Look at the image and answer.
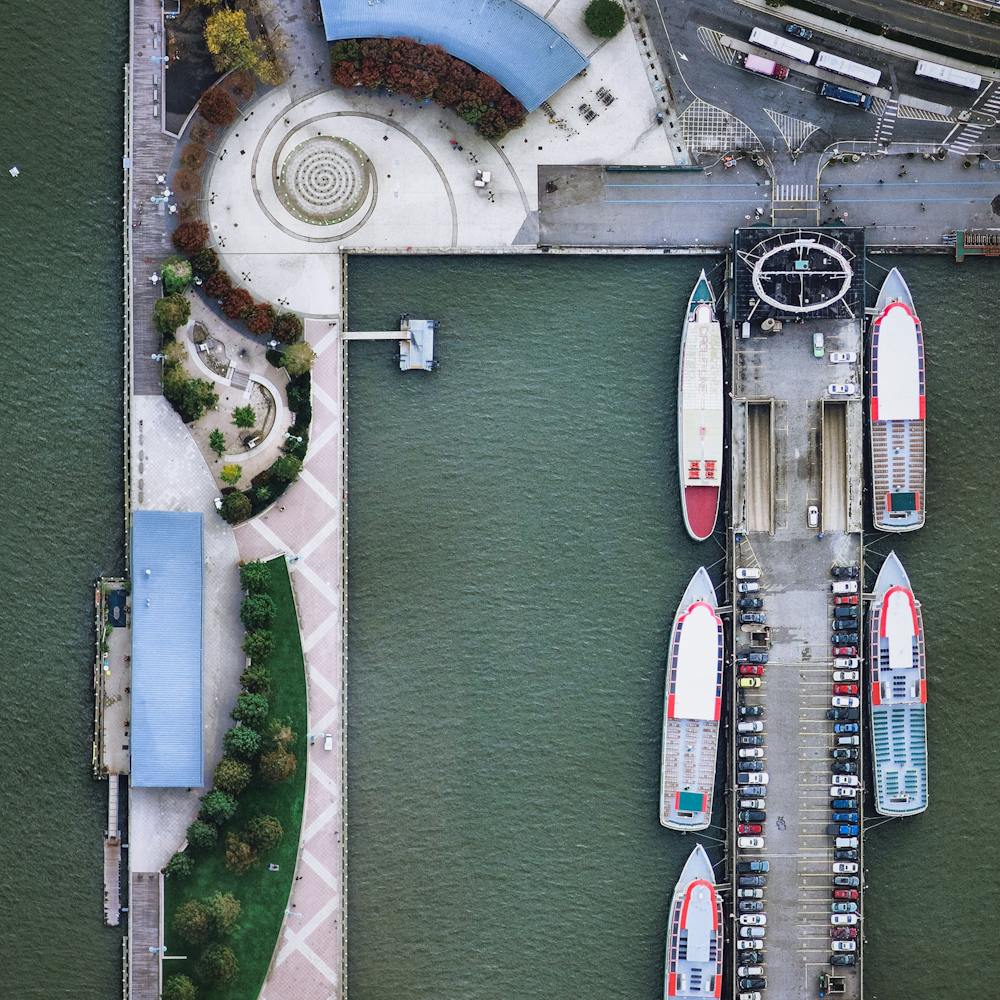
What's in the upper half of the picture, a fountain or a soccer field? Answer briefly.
fountain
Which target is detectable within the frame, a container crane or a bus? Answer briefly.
bus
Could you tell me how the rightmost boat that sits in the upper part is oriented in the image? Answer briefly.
vertically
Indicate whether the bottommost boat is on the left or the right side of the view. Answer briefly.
right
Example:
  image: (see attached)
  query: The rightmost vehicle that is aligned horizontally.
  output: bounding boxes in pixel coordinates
[912,61,981,92]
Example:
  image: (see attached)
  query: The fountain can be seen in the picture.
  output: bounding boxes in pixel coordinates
[276,134,370,227]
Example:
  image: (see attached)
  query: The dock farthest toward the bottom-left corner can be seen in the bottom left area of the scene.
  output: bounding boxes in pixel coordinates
[104,837,129,925]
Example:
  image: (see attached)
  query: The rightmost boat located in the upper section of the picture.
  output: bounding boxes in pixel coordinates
[867,267,926,533]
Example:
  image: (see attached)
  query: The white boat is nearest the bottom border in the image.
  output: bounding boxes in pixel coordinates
[665,845,723,1000]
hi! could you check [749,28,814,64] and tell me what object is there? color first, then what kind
white bus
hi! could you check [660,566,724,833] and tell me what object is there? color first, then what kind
white boat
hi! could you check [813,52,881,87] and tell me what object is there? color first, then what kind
white bus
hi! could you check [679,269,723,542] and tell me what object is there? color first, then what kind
white boat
